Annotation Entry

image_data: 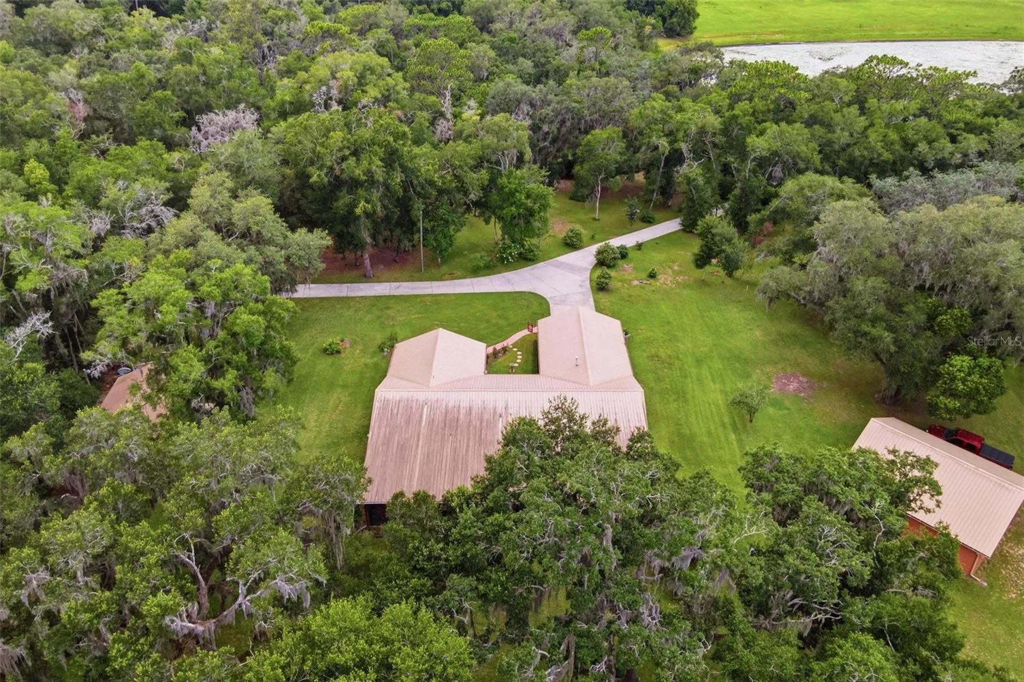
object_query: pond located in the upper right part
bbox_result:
[717,41,1024,106]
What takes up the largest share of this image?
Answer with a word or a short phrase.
trees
